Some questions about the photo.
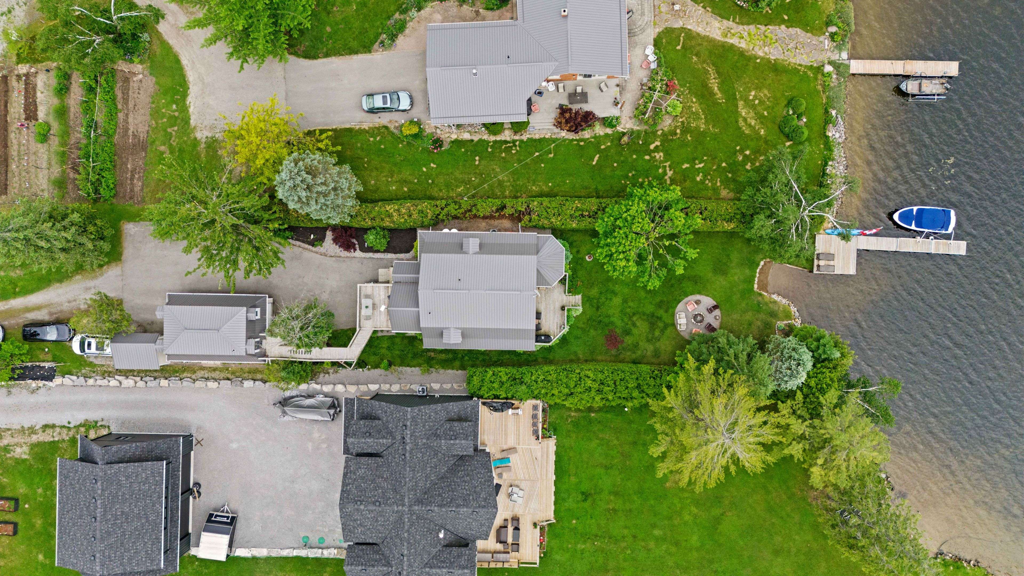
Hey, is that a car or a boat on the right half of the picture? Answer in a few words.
boat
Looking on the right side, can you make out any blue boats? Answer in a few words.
Yes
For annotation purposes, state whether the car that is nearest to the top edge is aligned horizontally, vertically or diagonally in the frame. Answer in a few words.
horizontally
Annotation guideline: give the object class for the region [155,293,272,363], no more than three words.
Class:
building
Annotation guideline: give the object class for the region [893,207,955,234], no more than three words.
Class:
boat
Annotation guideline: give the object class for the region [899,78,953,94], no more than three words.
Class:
boat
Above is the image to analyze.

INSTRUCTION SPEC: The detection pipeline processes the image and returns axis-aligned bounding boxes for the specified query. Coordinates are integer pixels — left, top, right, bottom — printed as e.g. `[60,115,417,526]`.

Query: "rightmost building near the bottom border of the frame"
[339,392,497,576]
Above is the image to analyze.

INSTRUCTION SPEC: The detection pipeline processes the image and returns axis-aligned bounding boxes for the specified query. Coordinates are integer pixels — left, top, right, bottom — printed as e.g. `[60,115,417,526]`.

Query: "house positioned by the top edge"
[426,0,630,126]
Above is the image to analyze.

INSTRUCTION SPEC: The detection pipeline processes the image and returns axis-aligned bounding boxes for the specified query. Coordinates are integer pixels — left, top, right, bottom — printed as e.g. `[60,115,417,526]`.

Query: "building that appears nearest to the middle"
[387,230,566,351]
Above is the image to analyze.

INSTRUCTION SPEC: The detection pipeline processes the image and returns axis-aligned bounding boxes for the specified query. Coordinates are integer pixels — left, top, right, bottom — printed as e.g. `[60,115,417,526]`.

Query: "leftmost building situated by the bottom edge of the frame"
[54,432,195,576]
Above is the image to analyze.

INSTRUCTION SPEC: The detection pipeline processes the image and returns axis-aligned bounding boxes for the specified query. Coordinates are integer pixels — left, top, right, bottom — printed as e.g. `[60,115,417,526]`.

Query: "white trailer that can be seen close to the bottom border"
[197,501,241,560]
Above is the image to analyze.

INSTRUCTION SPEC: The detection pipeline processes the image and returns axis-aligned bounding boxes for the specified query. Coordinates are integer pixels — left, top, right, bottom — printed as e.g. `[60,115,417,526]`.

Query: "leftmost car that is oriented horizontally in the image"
[19,322,75,344]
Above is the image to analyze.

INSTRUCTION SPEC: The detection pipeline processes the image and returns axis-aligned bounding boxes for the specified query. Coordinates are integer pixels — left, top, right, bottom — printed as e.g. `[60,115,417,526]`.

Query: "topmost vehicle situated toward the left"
[361,89,412,115]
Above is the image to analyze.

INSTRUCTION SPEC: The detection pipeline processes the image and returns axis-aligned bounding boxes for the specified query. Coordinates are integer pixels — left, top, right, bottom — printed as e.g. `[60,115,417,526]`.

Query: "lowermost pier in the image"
[811,234,969,275]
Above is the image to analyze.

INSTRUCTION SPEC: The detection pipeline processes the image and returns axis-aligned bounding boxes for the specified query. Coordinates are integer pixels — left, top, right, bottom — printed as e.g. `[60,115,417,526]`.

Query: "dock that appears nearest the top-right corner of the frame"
[847,58,961,79]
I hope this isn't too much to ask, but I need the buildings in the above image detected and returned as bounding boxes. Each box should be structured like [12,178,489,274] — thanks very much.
[155,293,272,363]
[54,432,195,576]
[339,392,497,576]
[426,0,630,126]
[387,230,566,351]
